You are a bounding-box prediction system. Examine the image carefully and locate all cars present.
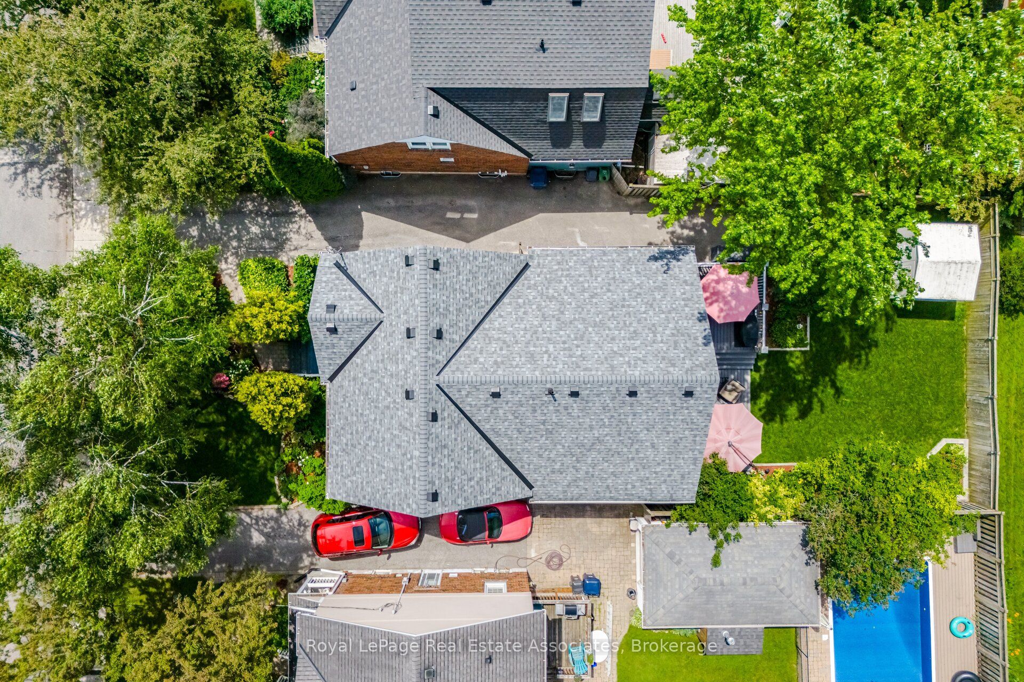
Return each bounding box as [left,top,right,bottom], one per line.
[310,508,421,558]
[440,502,532,550]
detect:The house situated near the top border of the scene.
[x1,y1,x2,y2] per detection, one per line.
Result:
[313,0,654,183]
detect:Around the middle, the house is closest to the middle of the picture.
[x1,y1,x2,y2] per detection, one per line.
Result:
[297,242,716,518]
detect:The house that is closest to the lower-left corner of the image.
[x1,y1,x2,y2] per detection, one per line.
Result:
[278,562,548,682]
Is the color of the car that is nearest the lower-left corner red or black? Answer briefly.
red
